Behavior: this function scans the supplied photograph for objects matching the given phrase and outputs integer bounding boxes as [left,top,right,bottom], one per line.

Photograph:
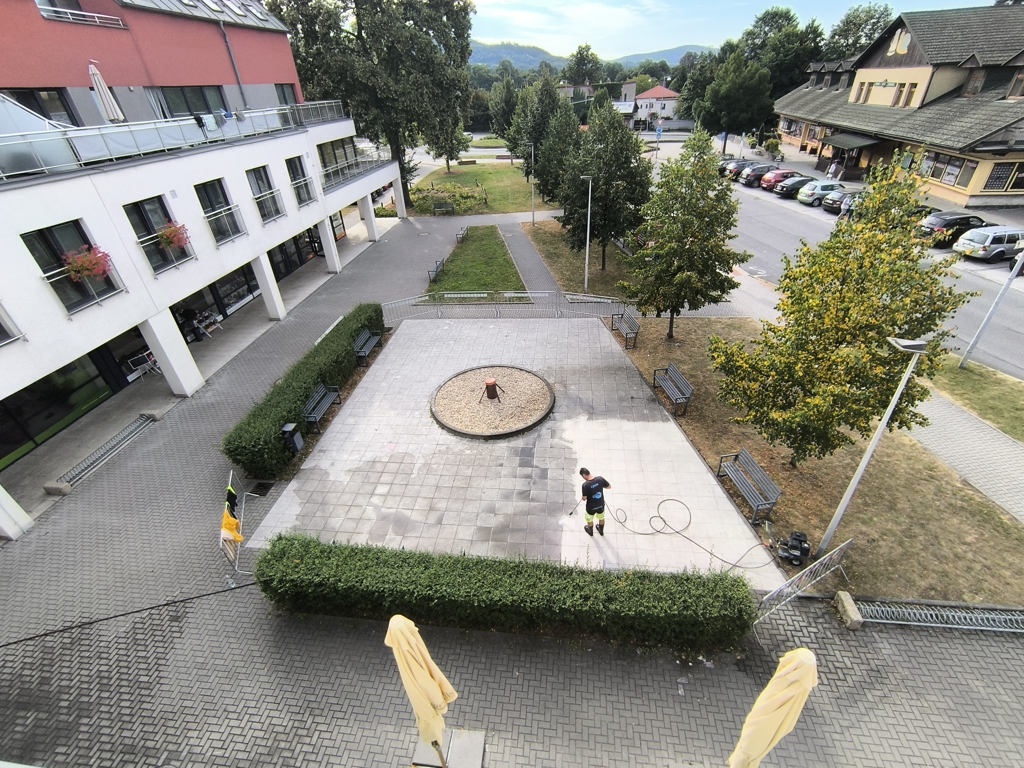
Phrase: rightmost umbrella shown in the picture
[726,638,820,768]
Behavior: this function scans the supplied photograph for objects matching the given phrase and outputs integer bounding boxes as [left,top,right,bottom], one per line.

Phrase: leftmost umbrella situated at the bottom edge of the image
[390,612,461,768]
